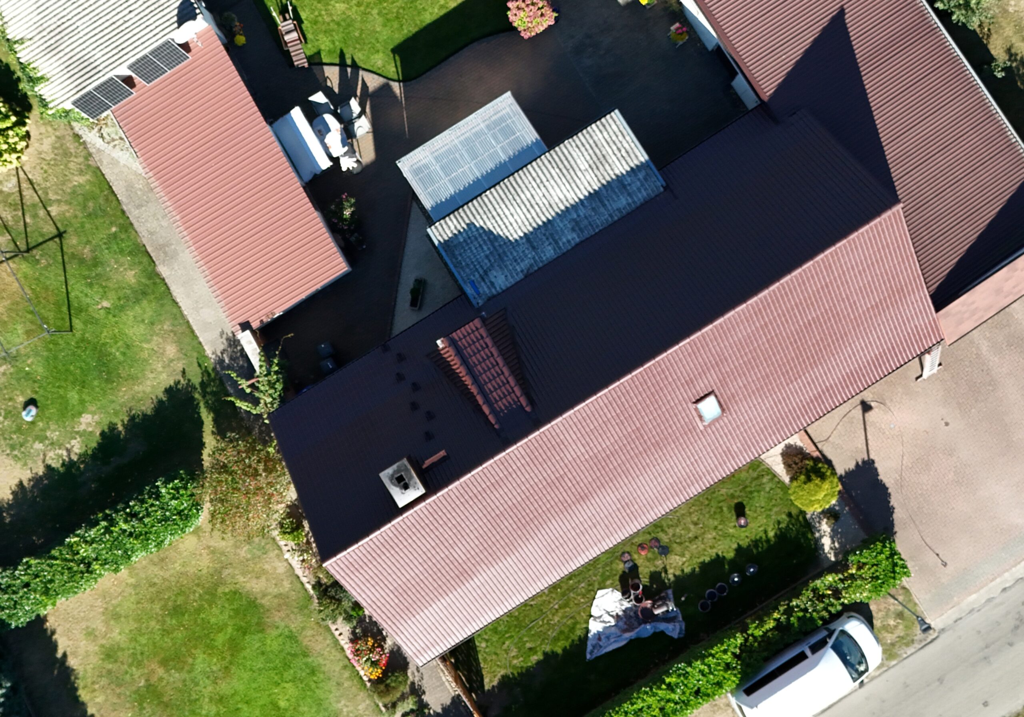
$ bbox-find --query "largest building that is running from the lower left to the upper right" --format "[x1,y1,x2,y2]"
[265,97,944,669]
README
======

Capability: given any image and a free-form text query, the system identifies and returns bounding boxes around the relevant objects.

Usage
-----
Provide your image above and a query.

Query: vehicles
[734,620,885,717]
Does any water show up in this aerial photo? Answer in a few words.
No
